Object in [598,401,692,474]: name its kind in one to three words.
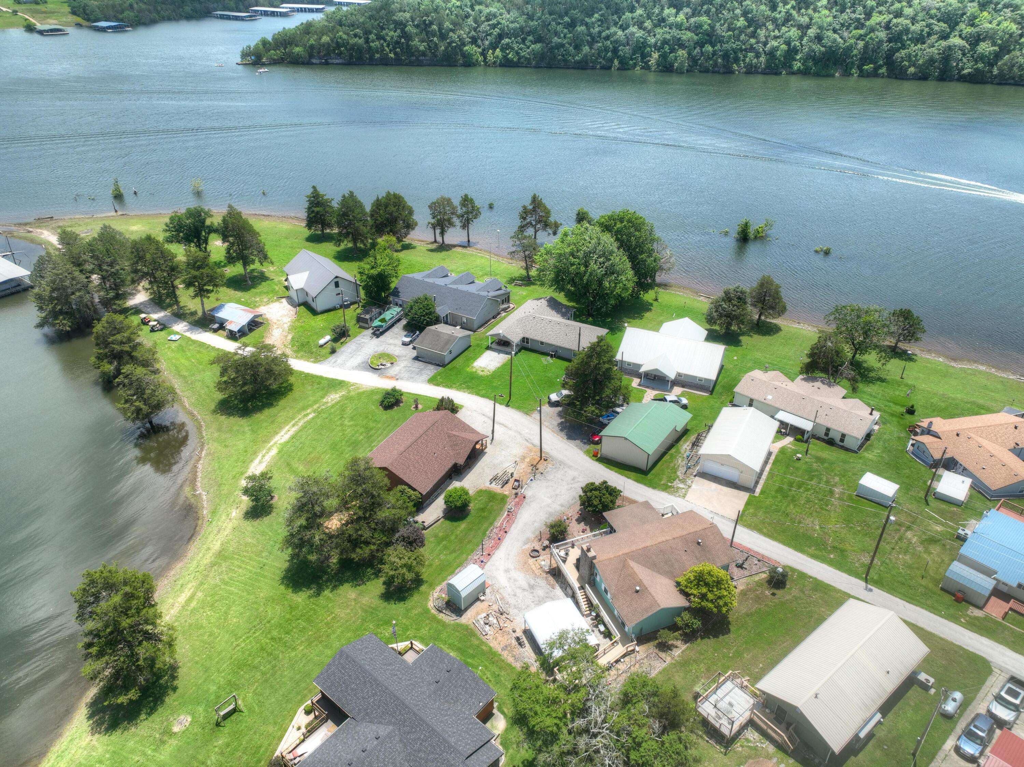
barn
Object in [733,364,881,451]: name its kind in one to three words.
house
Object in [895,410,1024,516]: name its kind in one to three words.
house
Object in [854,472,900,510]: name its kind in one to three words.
shed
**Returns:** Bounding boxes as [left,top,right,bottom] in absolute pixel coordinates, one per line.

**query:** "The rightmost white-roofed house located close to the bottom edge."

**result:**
[753,600,931,767]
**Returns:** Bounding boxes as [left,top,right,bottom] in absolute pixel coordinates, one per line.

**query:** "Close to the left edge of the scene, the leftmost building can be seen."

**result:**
[0,257,40,303]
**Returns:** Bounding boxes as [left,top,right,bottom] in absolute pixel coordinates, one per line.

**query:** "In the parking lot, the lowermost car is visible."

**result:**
[959,711,999,762]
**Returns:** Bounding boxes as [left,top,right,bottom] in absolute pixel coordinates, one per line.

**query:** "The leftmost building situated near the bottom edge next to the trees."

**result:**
[280,634,506,767]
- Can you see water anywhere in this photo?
Yes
